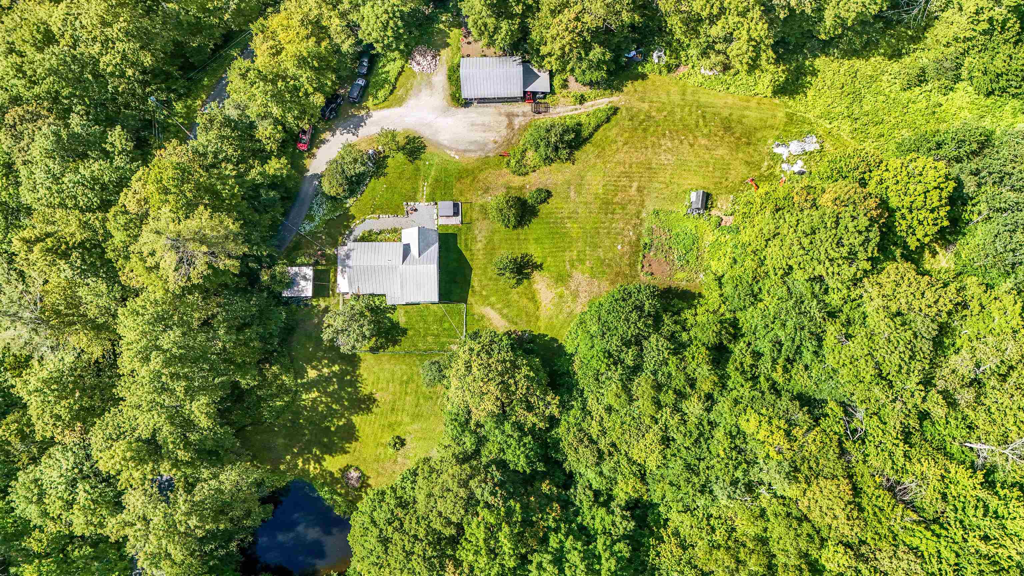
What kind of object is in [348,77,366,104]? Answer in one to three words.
car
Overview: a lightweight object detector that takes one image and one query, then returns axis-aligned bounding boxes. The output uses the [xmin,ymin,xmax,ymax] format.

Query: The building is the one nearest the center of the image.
[337,226,440,304]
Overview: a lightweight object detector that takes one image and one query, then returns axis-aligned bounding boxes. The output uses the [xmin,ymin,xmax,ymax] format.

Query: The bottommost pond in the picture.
[241,481,356,576]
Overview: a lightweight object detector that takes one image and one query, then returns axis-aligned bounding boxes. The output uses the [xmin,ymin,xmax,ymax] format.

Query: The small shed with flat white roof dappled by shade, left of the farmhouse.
[282,267,317,296]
